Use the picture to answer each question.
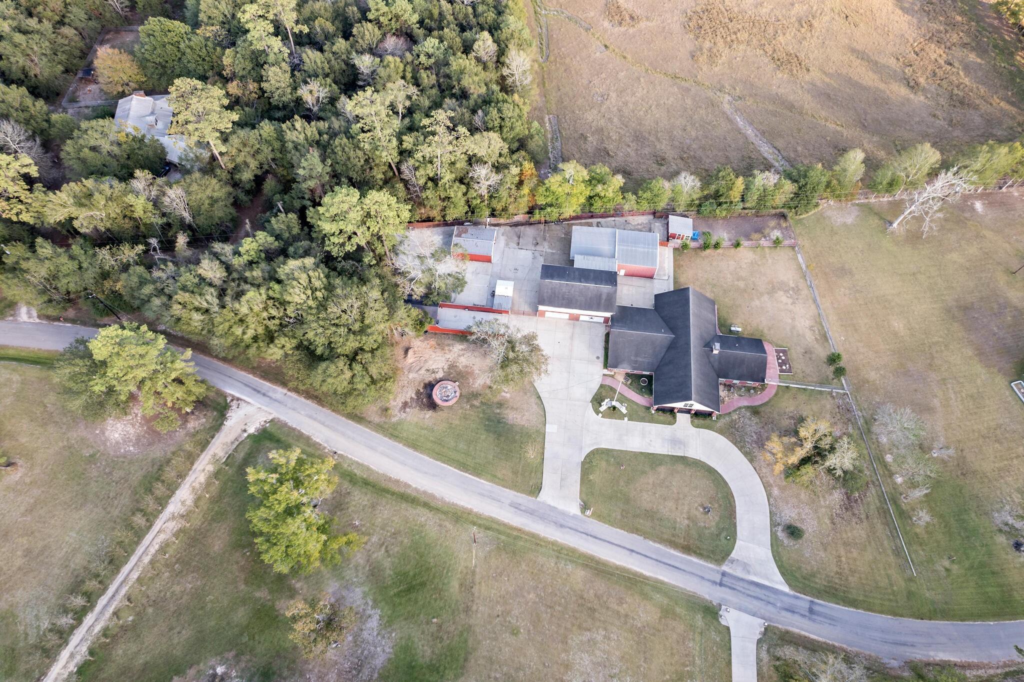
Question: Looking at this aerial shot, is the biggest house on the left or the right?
right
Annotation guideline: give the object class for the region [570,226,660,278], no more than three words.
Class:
building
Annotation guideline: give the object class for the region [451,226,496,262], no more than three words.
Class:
shed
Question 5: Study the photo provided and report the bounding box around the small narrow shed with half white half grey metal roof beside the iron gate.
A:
[493,280,514,311]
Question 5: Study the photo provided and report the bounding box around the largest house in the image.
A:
[608,287,769,416]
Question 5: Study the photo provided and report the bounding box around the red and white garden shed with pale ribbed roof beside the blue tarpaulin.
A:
[667,215,693,245]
